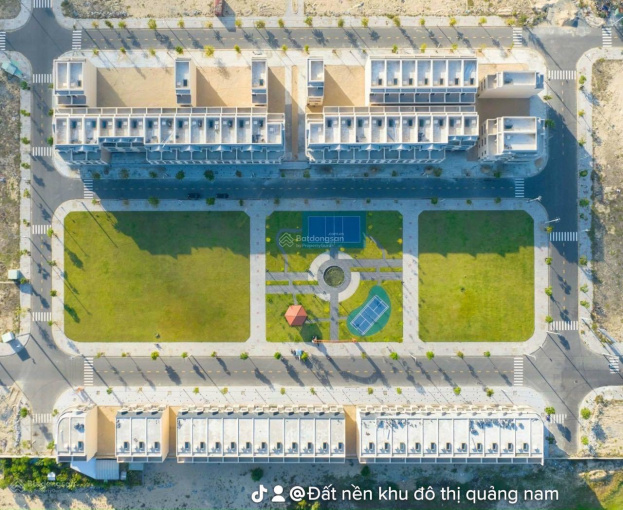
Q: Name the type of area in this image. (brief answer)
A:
residential area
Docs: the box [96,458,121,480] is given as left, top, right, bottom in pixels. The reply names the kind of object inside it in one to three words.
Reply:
shed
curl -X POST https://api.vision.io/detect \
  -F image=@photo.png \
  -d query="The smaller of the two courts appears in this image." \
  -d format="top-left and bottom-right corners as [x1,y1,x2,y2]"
[347,285,391,336]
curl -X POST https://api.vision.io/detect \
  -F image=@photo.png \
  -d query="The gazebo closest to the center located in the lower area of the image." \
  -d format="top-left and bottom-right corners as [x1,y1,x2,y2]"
[286,306,308,325]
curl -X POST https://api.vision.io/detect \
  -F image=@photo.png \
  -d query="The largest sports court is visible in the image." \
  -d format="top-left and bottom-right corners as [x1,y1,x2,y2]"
[302,211,366,248]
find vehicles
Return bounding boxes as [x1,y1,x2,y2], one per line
[215,192,228,198]
[187,192,200,198]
